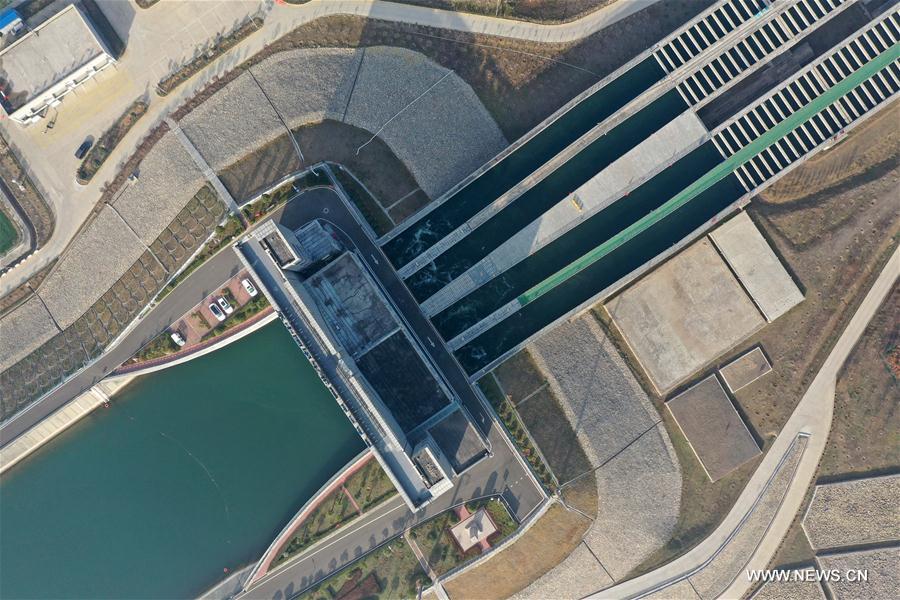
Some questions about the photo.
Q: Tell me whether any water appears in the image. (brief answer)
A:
Yes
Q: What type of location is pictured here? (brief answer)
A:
industrial area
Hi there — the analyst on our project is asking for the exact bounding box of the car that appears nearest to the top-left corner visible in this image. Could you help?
[76,141,92,159]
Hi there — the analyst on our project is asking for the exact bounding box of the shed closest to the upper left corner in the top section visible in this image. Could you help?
[0,10,28,44]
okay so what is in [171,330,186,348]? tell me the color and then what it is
white car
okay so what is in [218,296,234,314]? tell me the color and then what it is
white car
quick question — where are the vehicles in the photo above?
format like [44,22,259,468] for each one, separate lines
[209,303,225,322]
[218,296,234,314]
[242,278,258,297]
[76,141,92,159]
[171,330,186,348]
